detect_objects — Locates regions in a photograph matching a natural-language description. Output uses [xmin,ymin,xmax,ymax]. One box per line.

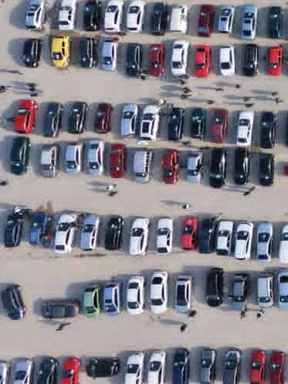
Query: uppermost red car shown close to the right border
[267,44,284,78]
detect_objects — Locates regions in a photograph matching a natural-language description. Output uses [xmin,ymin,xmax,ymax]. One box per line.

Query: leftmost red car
[15,101,38,132]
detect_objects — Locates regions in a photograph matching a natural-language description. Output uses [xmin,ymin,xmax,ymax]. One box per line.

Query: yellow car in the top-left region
[52,36,72,69]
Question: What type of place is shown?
parking lot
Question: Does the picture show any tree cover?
No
